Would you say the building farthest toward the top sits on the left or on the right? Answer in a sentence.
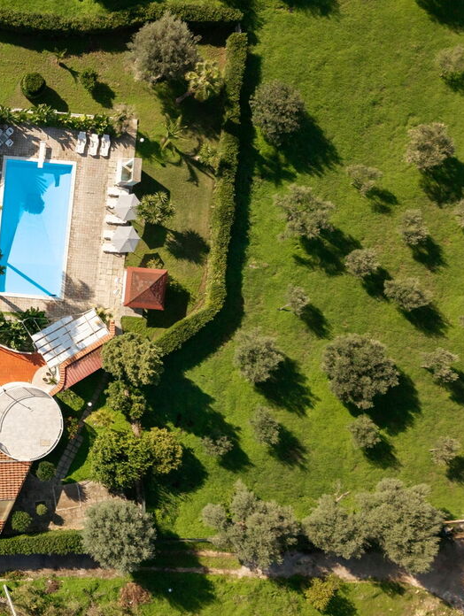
The building farthest toward the top is on the left side of the image.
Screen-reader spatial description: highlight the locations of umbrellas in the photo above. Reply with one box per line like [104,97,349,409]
[111,194,141,221]
[111,227,140,253]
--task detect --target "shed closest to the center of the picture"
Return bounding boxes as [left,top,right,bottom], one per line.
[118,267,167,310]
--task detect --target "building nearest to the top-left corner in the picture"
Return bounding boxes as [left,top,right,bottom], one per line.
[111,158,142,187]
